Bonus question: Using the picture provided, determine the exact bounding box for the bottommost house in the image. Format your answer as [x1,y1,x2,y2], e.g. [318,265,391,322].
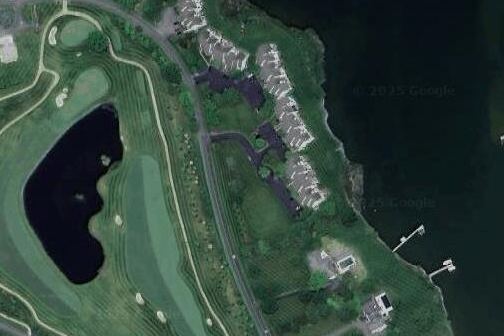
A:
[359,298,388,334]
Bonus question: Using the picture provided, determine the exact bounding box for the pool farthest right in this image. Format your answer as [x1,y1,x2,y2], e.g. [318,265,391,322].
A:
[374,292,393,313]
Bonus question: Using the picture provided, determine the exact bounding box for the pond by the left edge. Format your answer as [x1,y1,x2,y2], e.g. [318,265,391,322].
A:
[23,104,123,283]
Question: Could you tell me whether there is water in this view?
Yes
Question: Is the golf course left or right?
left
